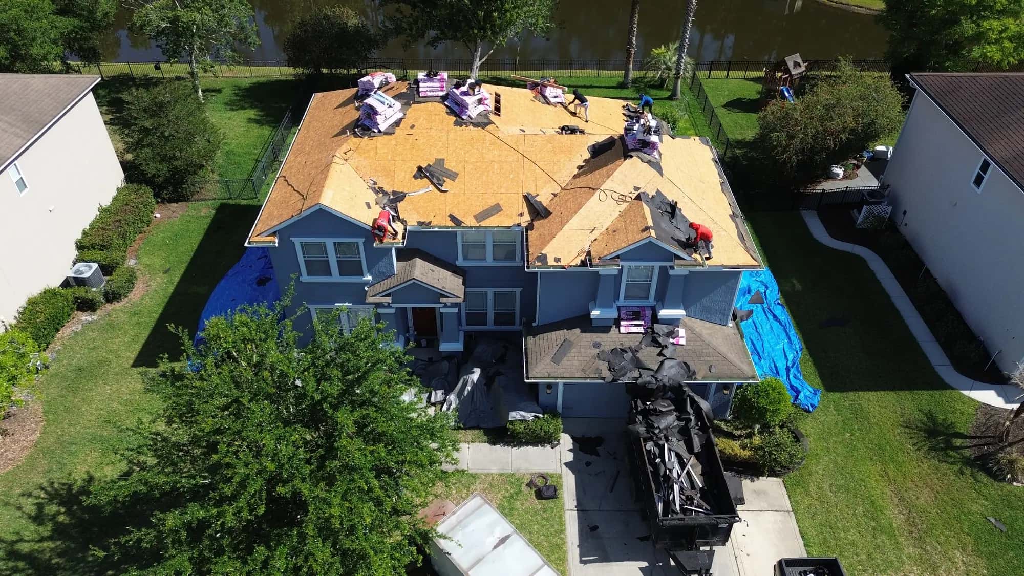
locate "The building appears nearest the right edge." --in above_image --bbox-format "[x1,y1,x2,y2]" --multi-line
[876,77,1024,386]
